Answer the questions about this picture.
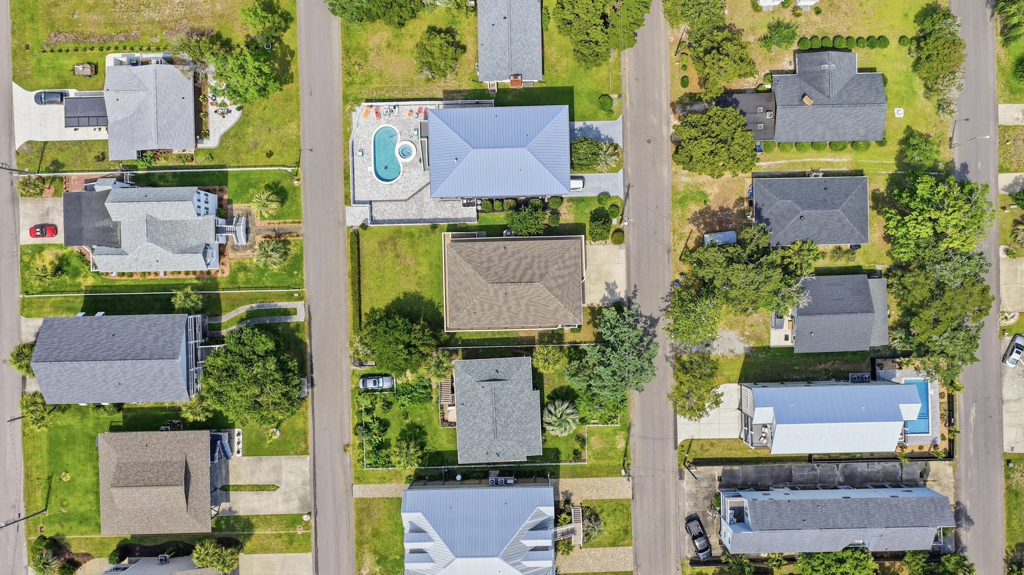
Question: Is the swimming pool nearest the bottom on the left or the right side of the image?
right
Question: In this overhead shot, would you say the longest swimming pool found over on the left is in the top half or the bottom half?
top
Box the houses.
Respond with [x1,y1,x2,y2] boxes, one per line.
[32,310,231,407]
[104,64,200,160]
[439,357,541,463]
[790,275,888,353]
[751,175,869,246]
[442,232,584,333]
[417,104,571,201]
[401,481,553,575]
[90,555,218,575]
[478,0,542,92]
[93,430,239,535]
[790,0,815,11]
[734,383,922,455]
[720,487,956,557]
[769,51,886,143]
[63,179,246,272]
[754,0,780,11]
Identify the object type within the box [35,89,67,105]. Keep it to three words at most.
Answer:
car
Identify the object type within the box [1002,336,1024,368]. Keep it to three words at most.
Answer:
car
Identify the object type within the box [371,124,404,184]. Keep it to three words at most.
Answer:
swimming pool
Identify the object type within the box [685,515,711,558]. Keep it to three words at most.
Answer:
truck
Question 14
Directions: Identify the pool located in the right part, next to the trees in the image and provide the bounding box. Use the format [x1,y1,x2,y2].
[902,378,931,436]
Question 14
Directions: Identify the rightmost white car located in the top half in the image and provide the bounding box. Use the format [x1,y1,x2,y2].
[570,178,586,192]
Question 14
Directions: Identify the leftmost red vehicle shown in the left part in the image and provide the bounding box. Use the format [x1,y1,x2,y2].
[30,224,58,238]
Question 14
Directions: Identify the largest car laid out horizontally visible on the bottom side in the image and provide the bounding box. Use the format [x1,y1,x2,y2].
[359,376,391,391]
